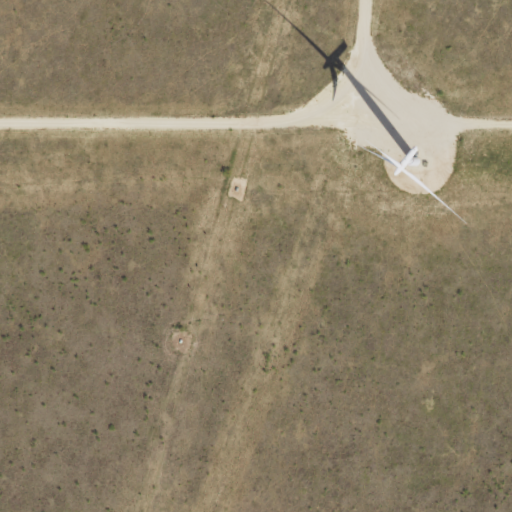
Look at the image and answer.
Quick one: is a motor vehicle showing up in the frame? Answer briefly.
No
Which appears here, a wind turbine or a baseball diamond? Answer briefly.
wind turbine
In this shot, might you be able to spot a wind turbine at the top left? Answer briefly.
No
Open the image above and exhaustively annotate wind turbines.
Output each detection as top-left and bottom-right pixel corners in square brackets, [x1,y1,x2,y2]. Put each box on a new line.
[362,144,465,221]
